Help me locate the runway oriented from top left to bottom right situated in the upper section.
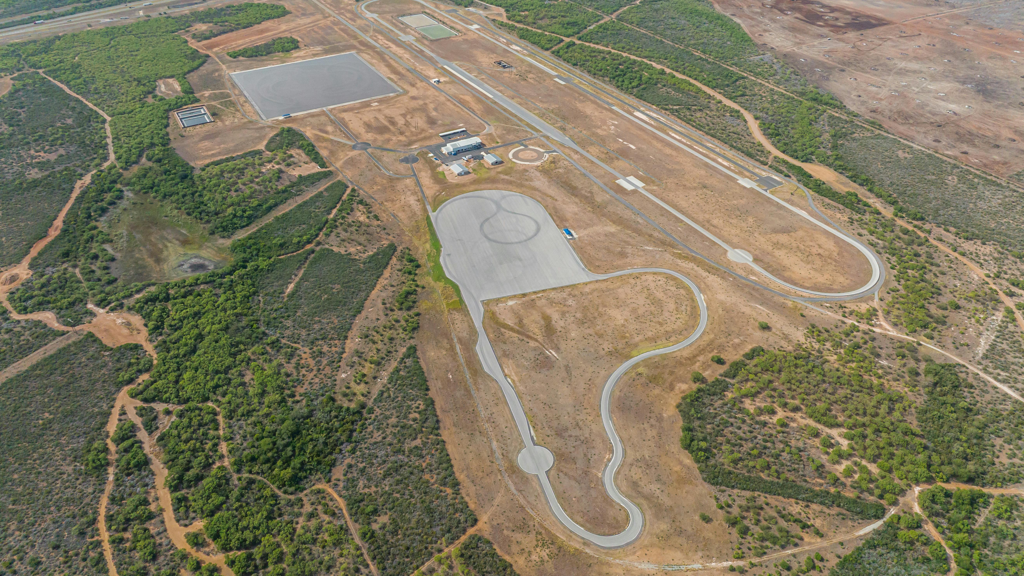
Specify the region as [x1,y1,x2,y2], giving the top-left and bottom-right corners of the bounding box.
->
[433,55,638,190]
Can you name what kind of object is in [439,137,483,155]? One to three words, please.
building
